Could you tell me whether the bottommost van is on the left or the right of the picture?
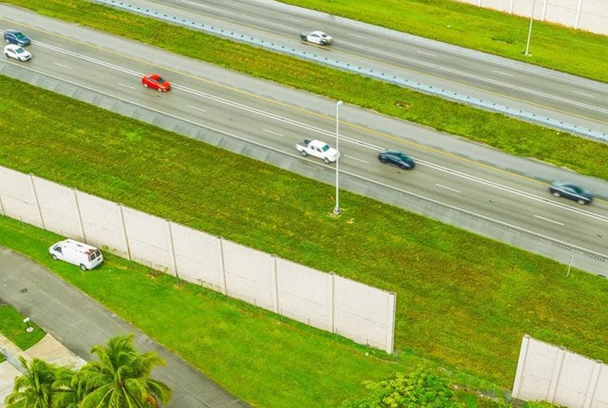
left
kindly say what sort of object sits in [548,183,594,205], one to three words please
car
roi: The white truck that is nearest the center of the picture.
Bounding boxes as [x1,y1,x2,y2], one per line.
[294,140,341,163]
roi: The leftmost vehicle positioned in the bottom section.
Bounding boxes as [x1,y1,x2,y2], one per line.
[48,239,106,271]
